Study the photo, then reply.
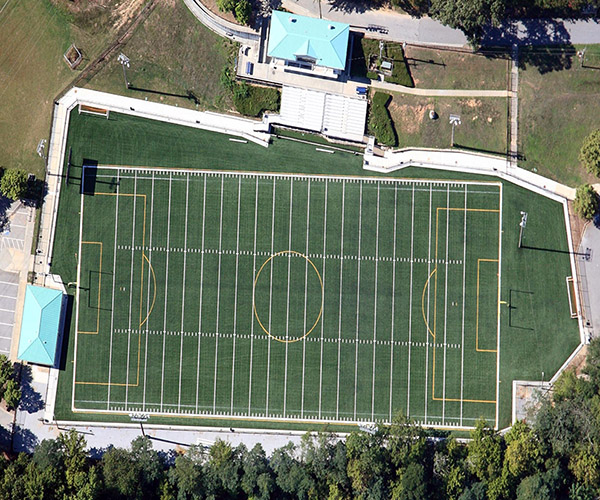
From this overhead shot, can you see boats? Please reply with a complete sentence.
No, this view has no boat in it.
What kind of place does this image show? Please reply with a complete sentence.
It's a sports ground.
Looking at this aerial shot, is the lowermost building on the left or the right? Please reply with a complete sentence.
It is on the left.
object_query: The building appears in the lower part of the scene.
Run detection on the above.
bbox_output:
[18,285,63,368]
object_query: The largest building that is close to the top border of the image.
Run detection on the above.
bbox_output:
[267,10,350,81]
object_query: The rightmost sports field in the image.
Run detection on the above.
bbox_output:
[50,105,582,436]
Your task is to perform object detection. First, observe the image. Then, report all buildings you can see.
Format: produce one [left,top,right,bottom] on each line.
[267,10,350,81]
[18,285,63,368]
